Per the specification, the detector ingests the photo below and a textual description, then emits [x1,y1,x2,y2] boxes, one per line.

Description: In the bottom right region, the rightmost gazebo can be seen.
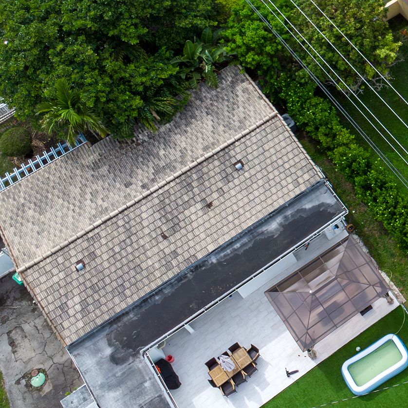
[266,236,397,362]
